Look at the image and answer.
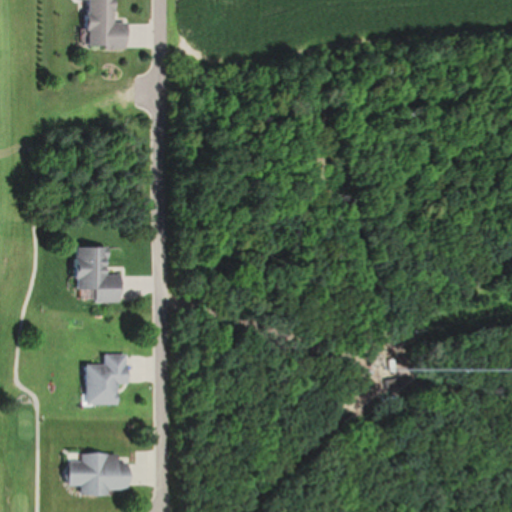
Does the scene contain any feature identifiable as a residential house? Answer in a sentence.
Yes, the frame does contain a residential house.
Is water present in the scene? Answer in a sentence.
No, there is no water in the image.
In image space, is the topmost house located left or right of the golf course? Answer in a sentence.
The golf course has the topmost house on its right side.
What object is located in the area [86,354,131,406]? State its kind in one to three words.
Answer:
house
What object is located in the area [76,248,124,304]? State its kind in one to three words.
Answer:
house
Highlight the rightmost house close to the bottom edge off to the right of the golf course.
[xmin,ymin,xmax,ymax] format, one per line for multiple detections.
[68,453,132,497]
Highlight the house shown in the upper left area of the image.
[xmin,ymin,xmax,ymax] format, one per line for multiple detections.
[87,0,130,51]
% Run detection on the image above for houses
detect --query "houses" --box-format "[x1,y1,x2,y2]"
[76,248,124,304]
[87,0,130,51]
[86,354,131,406]
[68,453,132,497]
